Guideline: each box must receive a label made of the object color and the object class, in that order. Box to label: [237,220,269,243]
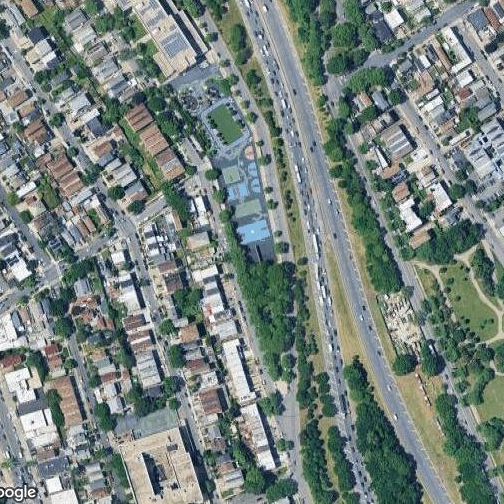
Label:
blue tennis court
